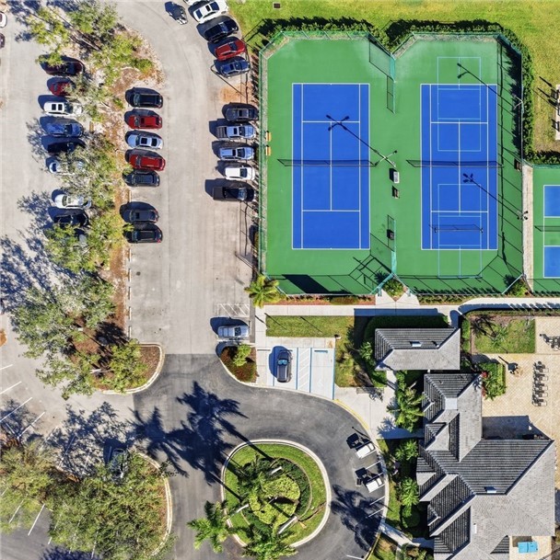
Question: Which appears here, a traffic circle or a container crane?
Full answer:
This aerial view contains a traffic circle.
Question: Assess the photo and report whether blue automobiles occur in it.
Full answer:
Yes, looking at the shot, I can spot a blue automobile.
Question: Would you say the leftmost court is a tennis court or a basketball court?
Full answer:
It looks like the leftmost court is a tennis court.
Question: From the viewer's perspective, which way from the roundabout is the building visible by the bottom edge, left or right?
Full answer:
The roundabout has the building visible by the bottom edge on its right side.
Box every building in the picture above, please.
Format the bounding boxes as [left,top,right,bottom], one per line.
[417,374,555,560]
[374,328,460,371]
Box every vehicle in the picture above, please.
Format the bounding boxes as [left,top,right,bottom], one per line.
[218,146,255,160]
[217,324,251,339]
[130,152,166,170]
[129,88,163,105]
[219,58,251,77]
[173,9,186,23]
[46,120,84,137]
[223,104,259,121]
[224,166,255,181]
[0,13,10,28]
[191,0,228,22]
[128,207,162,223]
[213,39,249,60]
[45,138,82,155]
[109,446,130,479]
[128,170,162,186]
[211,184,255,202]
[275,350,292,383]
[364,475,386,493]
[202,18,240,41]
[356,441,377,459]
[216,123,255,139]
[44,57,83,75]
[129,226,165,242]
[45,80,77,96]
[0,33,6,48]
[45,99,83,117]
[129,112,163,128]
[129,132,164,148]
